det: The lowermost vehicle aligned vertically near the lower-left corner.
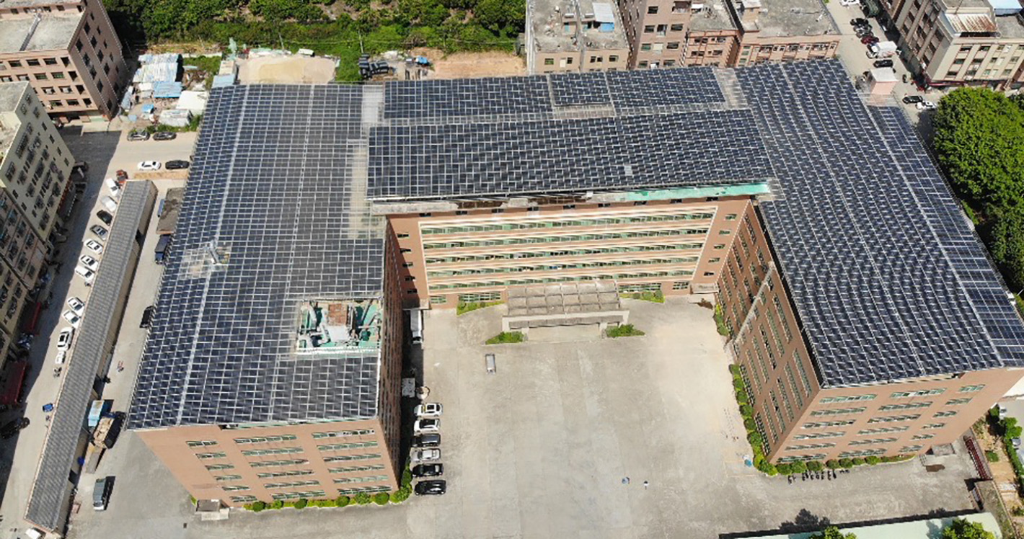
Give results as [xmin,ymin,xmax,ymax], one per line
[92,476,113,511]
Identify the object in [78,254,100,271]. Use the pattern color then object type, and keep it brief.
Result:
white car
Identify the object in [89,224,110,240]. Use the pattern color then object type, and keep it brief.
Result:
gray car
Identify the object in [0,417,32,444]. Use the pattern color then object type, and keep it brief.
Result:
black car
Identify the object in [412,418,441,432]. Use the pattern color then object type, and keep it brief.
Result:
white car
